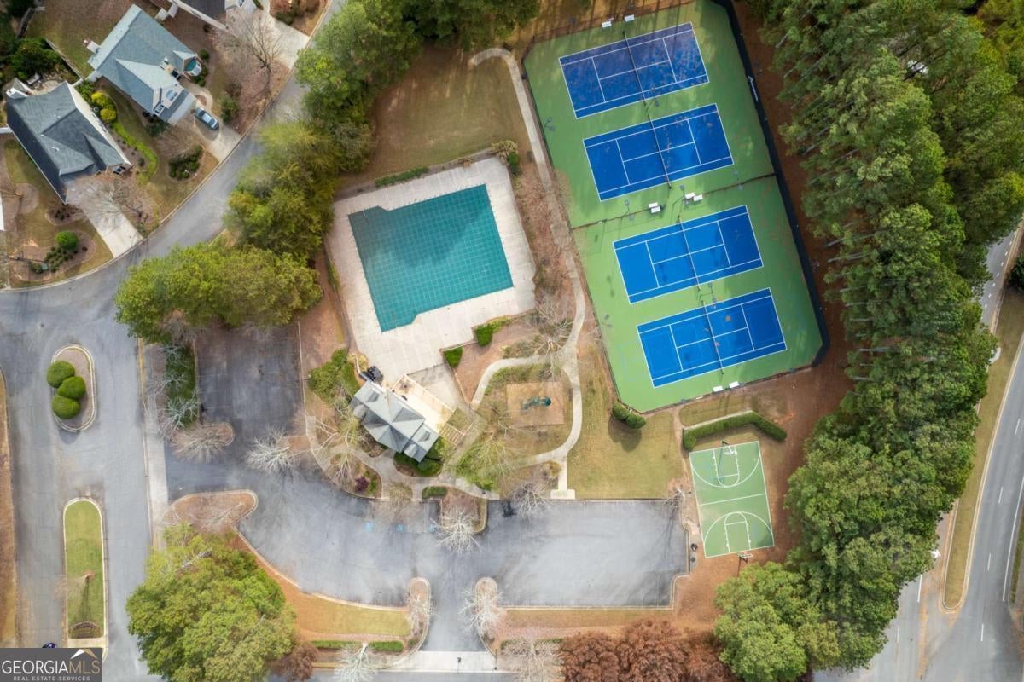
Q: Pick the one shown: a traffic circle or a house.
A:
house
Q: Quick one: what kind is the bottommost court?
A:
basketball court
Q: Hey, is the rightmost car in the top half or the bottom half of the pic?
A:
top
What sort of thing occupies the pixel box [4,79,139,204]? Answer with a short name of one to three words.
house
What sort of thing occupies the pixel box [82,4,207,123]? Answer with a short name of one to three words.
house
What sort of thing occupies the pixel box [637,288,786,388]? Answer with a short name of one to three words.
tennis court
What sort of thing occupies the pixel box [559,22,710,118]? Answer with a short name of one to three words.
tennis court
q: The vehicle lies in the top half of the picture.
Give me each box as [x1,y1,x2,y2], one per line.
[192,106,219,130]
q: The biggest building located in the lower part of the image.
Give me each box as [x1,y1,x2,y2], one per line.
[346,380,440,463]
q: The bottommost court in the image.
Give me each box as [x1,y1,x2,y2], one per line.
[689,440,774,559]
